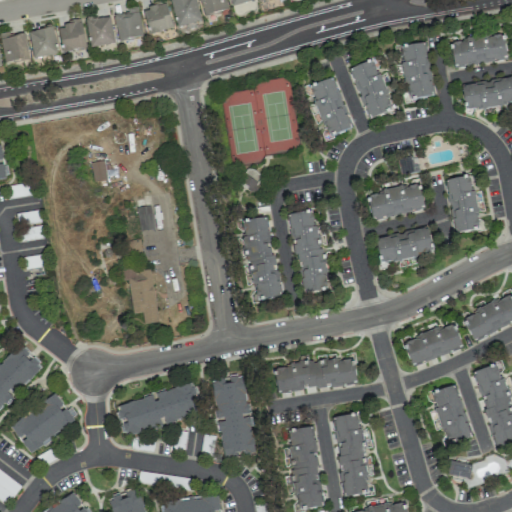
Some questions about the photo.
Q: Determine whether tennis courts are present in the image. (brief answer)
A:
Yes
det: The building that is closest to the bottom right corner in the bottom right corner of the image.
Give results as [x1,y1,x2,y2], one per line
[450,461,474,480]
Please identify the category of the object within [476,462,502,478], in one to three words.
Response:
swimming pool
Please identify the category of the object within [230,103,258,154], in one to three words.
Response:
tennis court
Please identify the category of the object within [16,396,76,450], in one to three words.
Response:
building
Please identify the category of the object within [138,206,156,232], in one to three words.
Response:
shed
